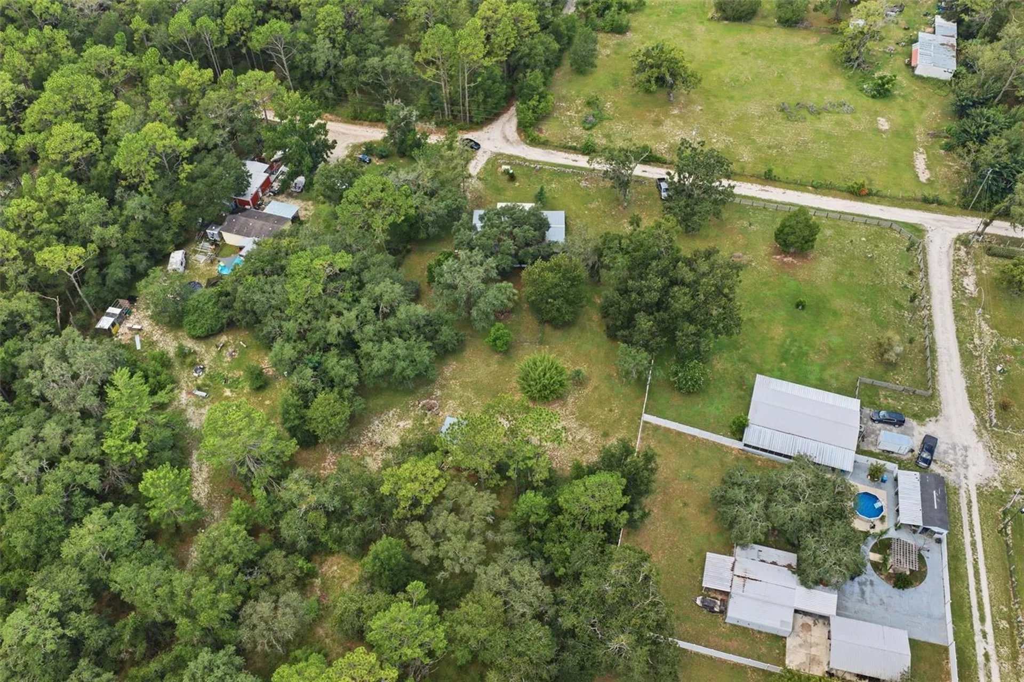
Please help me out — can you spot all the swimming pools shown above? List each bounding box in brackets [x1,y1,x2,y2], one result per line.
[851,492,886,522]
[216,247,246,274]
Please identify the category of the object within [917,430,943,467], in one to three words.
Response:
truck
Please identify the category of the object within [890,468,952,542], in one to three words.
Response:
building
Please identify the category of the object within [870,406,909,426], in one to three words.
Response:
car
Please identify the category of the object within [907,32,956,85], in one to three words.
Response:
barn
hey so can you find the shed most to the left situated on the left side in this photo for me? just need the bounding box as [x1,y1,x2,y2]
[96,295,136,344]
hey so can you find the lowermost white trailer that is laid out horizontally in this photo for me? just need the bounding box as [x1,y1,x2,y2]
[878,426,922,452]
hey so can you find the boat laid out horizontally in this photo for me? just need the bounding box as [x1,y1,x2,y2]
[693,593,732,611]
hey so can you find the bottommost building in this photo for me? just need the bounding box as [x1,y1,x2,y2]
[824,616,916,682]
